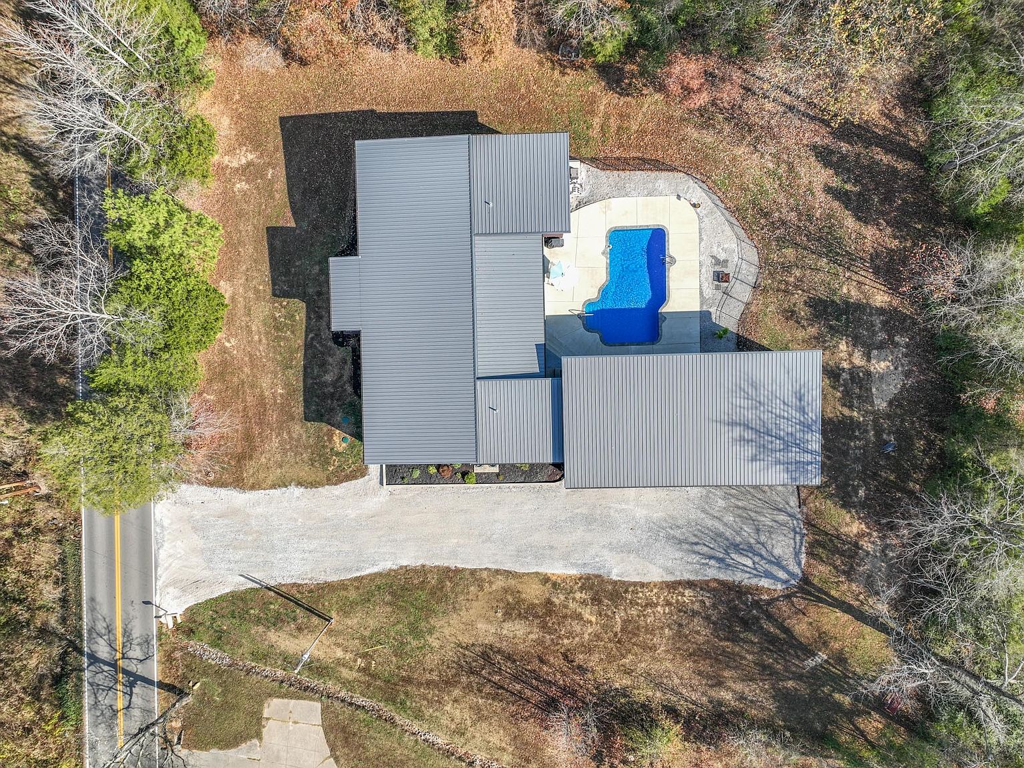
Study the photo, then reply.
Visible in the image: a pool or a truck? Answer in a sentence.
This aerial view contains a pool.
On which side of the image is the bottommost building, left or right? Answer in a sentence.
The bottommost building is on the right side of the image.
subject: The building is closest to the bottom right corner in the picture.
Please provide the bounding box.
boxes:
[563,351,824,490]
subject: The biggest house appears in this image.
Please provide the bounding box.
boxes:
[330,131,571,465]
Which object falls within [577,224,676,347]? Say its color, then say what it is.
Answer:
blue swimming pool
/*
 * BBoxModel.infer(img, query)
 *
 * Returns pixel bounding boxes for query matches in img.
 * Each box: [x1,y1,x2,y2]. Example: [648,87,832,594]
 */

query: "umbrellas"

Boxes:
[547,260,576,289]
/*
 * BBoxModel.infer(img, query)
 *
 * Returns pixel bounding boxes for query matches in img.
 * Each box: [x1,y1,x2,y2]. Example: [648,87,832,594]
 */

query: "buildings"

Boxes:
[330,131,571,465]
[563,351,824,490]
